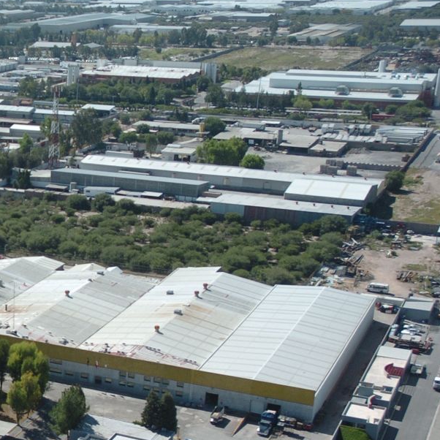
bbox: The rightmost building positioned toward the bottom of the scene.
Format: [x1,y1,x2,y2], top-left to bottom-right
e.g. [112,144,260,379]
[399,298,437,335]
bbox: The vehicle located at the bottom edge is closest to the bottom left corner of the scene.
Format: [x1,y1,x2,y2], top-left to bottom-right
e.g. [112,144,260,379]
[211,406,224,421]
